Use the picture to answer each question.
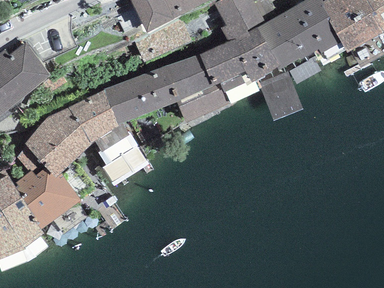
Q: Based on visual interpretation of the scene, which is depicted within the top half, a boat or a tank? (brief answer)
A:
boat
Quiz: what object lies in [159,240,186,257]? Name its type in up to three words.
boat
